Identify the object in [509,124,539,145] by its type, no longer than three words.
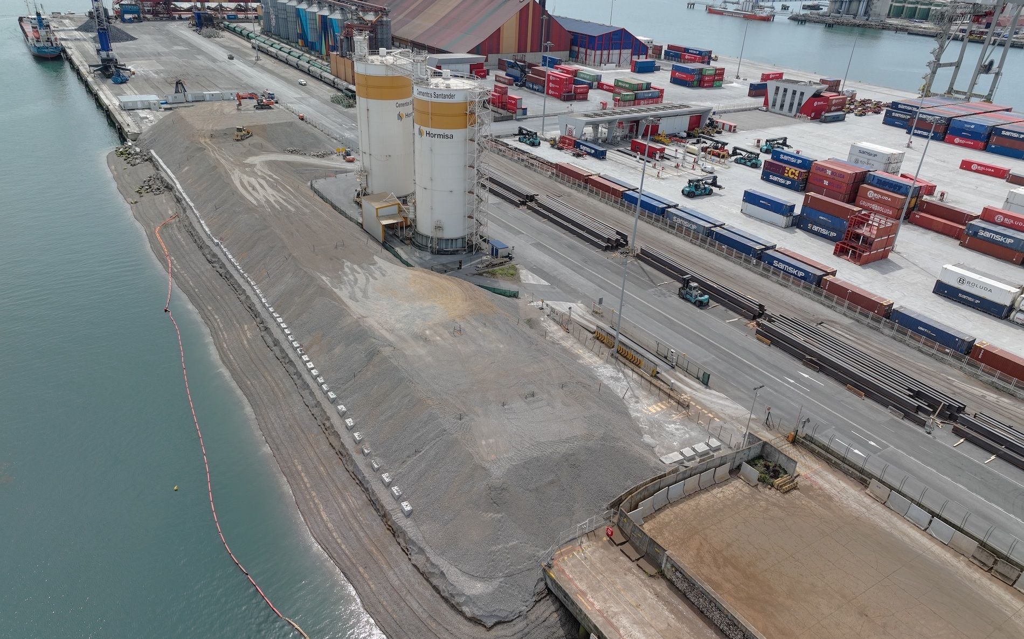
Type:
work vehicle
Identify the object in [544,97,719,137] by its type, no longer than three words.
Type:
building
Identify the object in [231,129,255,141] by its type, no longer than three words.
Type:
vehicle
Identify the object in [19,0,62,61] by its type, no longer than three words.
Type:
ship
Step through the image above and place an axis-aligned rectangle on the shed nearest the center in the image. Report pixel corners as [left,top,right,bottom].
[488,238,514,258]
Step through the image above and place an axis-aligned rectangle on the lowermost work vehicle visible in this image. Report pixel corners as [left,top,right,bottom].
[672,275,707,306]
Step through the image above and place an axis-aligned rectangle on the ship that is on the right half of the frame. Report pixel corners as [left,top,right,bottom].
[705,0,783,20]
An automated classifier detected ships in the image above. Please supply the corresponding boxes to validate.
[19,0,62,61]
[705,0,783,20]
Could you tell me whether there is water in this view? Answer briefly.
Yes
